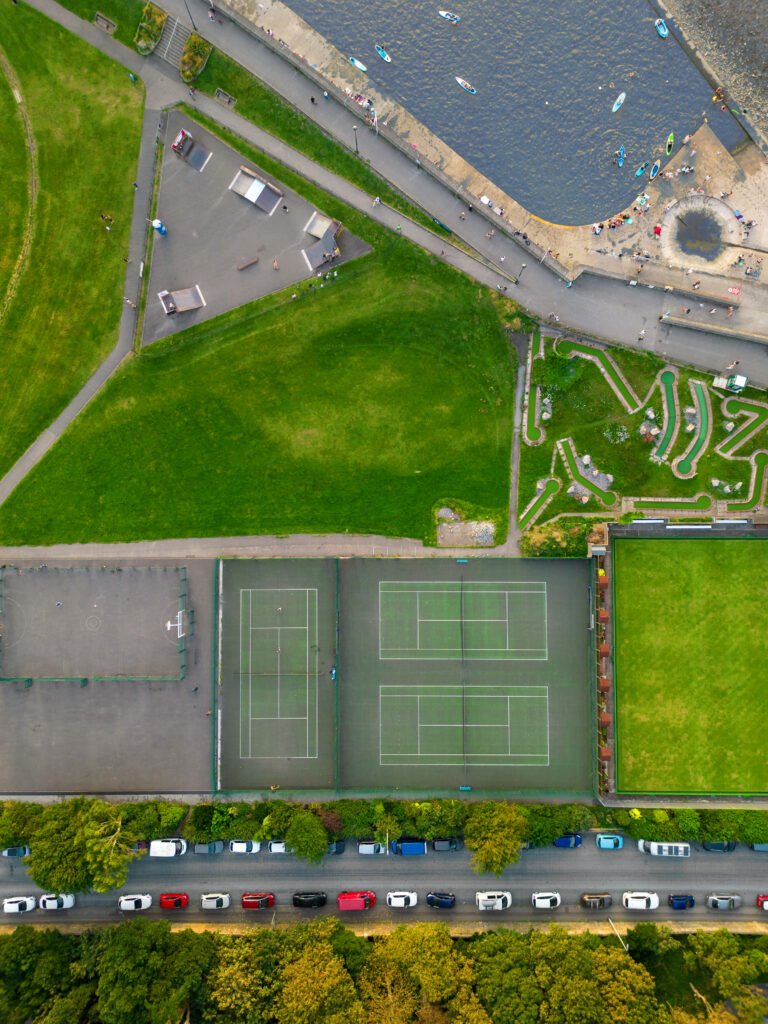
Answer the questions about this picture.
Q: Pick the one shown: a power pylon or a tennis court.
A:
tennis court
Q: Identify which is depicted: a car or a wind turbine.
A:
car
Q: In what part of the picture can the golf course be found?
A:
right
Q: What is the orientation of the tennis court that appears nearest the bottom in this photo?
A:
horizontally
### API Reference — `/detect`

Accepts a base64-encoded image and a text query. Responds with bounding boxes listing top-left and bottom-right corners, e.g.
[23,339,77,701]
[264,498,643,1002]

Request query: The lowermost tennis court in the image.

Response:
[378,686,548,765]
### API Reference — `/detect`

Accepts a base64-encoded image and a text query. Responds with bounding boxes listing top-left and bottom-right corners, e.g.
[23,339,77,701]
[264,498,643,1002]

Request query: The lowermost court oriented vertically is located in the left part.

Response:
[240,589,318,758]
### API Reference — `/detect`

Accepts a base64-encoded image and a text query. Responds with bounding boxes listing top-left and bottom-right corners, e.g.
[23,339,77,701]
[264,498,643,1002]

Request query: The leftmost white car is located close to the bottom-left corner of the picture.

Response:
[3,895,35,913]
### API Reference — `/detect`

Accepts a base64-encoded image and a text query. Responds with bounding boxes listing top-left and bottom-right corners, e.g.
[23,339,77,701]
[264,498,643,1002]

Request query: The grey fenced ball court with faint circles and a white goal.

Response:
[4,570,186,676]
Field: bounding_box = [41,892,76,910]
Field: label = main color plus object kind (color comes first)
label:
white car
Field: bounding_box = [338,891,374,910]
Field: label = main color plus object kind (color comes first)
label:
red vehicle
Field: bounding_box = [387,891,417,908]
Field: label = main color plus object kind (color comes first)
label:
white car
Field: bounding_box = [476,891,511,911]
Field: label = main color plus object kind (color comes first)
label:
white vehicle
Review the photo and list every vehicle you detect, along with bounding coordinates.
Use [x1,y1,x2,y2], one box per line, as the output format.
[387,891,417,908]
[637,841,691,860]
[41,892,76,910]
[749,839,768,854]
[554,836,583,851]
[1,842,28,860]
[706,892,741,910]
[391,837,427,856]
[426,891,455,909]
[230,838,260,855]
[702,836,736,853]
[357,839,386,856]
[595,833,625,850]
[431,835,467,854]
[202,893,229,910]
[476,891,511,911]
[320,839,349,856]
[160,893,188,909]
[3,895,35,913]
[268,838,293,855]
[149,838,187,856]
[193,840,224,856]
[667,893,695,910]
[293,891,326,909]
[242,892,276,910]
[338,891,374,910]
[624,891,657,909]
[579,893,613,911]
[531,891,560,909]
[120,893,151,911]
